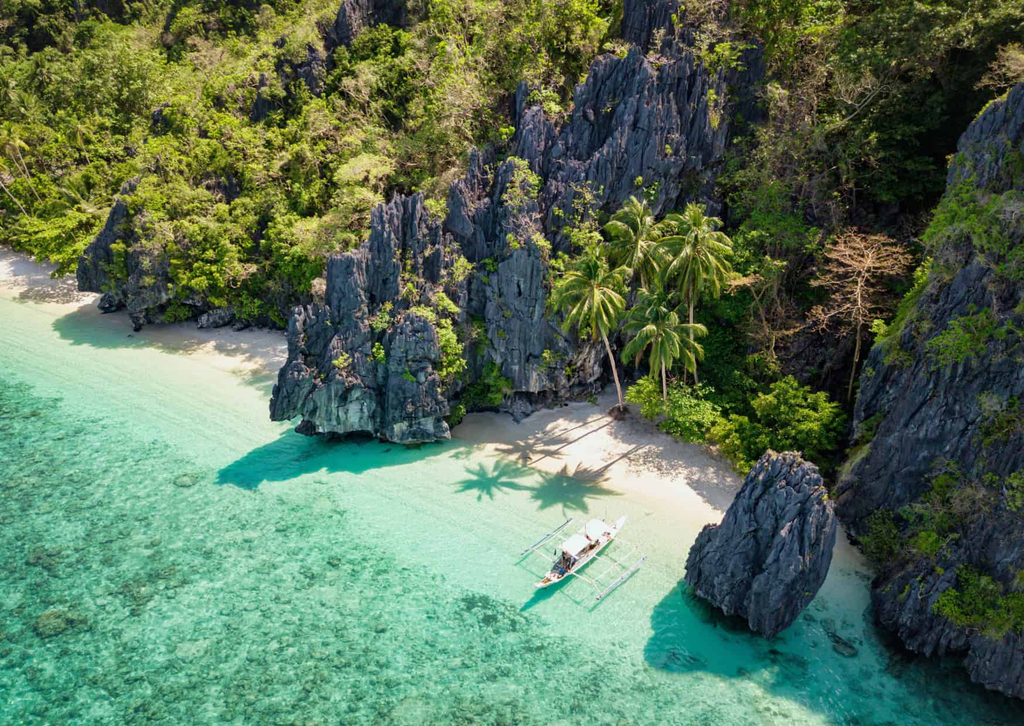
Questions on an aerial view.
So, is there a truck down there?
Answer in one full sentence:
No, no truck can be seen from above.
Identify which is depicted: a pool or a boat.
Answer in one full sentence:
Looking from above, you can make out a boat.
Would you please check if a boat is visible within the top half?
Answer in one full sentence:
No, within the top half there is no boat.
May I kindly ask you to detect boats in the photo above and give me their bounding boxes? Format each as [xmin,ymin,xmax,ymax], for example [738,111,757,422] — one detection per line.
[519,492,650,599]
